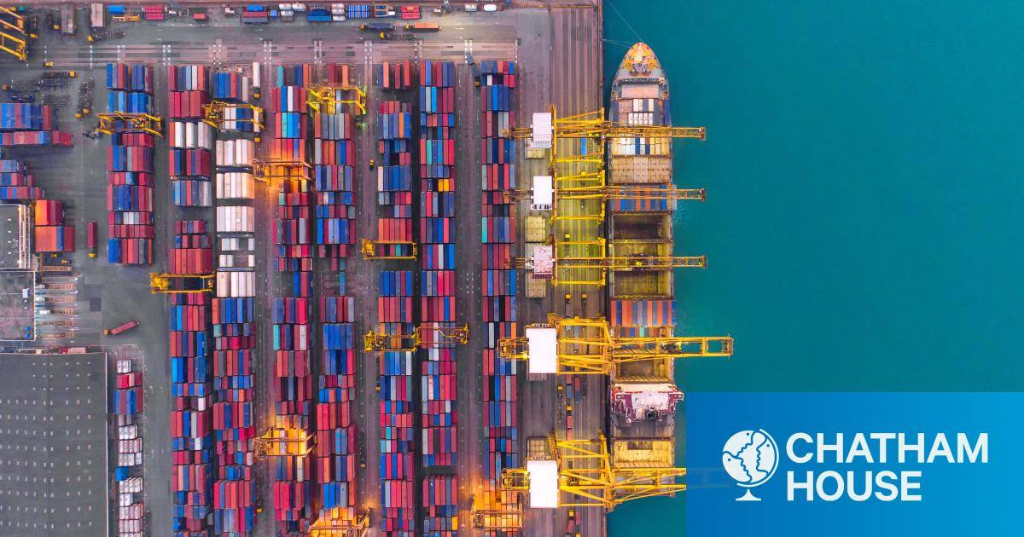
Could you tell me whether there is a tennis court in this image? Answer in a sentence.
No, there is no tennis court in the image.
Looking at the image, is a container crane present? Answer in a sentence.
Yes, there is a container crane in the image.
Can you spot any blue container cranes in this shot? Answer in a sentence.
No, no blue container crane is visible in the view.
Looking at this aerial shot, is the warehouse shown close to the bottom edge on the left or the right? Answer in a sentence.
The warehouse shown close to the bottom edge sits on the left side.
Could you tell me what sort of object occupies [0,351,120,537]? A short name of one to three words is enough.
warehouse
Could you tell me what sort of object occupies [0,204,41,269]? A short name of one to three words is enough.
building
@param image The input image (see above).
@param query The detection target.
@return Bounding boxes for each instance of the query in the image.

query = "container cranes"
[362,329,423,354]
[497,169,707,226]
[304,84,366,113]
[497,106,706,167]
[93,111,162,139]
[495,313,736,380]
[362,239,422,263]
[497,434,737,514]
[251,158,316,184]
[468,498,526,531]
[413,321,469,346]
[200,101,267,130]
[155,271,220,294]
[310,513,369,537]
[0,4,26,37]
[254,428,319,459]
[498,235,707,289]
